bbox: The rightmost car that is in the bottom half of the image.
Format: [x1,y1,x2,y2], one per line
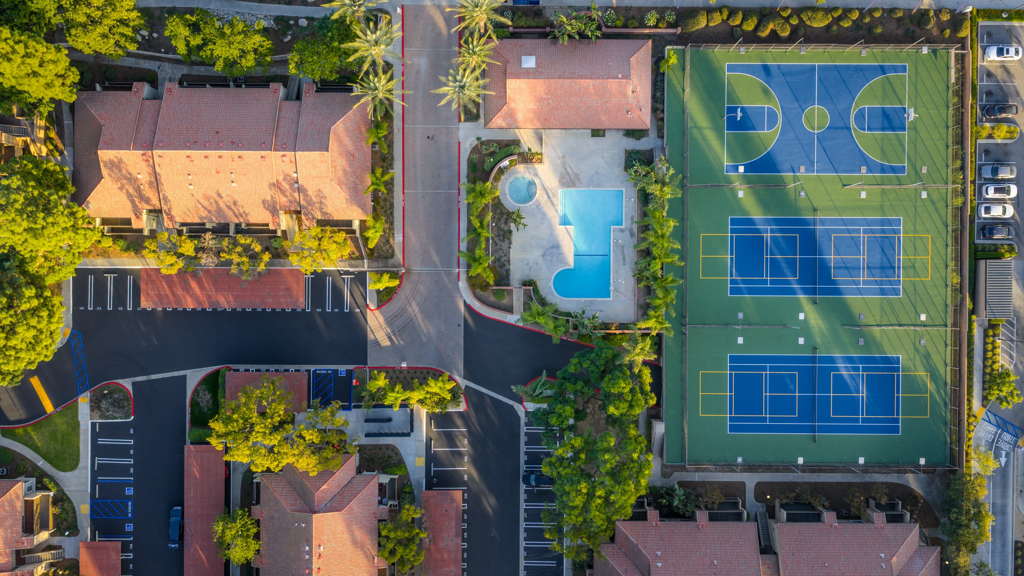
[523,472,558,493]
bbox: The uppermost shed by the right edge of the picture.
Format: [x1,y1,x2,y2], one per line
[968,260,1012,319]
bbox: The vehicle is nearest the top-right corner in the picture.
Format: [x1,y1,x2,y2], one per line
[983,43,1021,61]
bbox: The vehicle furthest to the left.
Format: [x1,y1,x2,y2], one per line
[166,506,184,549]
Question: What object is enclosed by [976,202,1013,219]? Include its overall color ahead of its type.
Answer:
white car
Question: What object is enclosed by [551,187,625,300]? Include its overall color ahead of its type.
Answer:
blue swimming pool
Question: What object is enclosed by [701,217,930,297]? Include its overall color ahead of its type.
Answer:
blue tennis court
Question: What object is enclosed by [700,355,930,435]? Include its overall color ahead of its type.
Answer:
blue tennis court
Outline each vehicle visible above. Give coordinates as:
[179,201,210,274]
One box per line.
[983,43,1021,61]
[981,223,1015,240]
[980,182,1016,199]
[166,506,184,549]
[978,163,1016,180]
[523,472,558,493]
[981,102,1018,119]
[976,202,1013,219]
